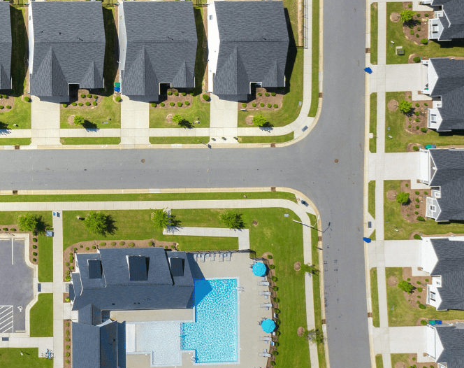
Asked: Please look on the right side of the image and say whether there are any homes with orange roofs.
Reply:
No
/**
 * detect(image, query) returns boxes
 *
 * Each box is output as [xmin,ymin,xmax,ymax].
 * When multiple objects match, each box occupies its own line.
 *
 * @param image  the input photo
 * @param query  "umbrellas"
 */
[251,261,267,276]
[260,318,276,332]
